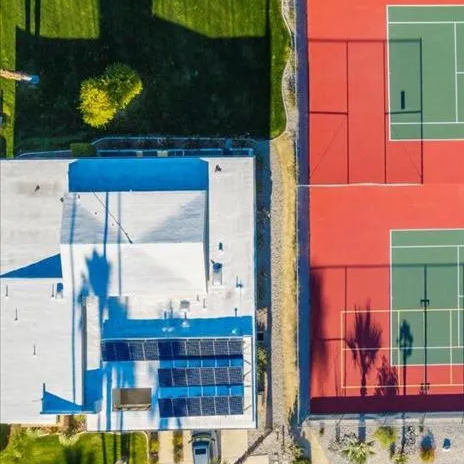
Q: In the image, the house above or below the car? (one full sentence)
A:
Relative to the car, the house lies above it.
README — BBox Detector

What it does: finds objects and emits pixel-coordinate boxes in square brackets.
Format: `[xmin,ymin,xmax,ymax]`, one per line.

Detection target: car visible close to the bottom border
[185,429,214,464]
